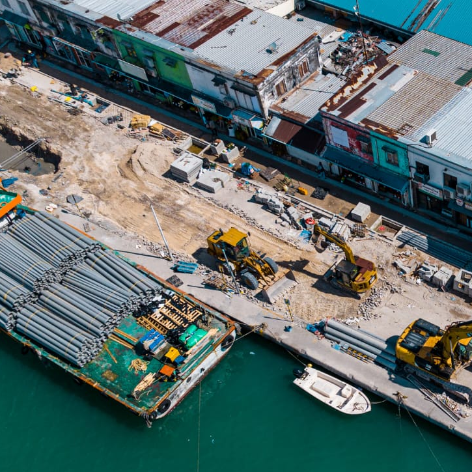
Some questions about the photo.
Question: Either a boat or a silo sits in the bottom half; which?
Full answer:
What appears in the bottom half is a boat.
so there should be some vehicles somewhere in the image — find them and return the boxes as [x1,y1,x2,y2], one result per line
[393,314,472,401]
[313,223,382,301]
[213,227,302,306]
